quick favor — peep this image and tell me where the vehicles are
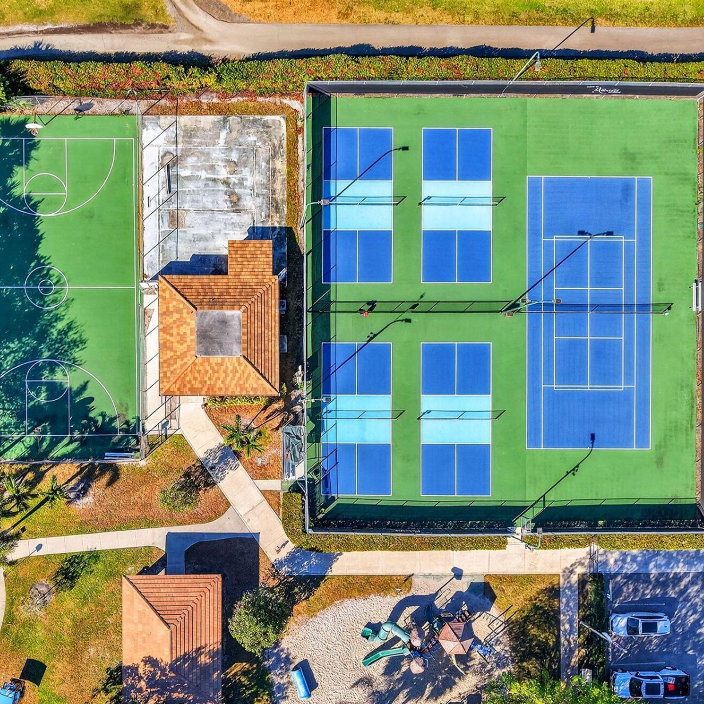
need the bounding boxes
[611,666,689,700]
[608,612,668,640]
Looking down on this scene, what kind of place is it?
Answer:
sports ground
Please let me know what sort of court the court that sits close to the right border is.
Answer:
tennis court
